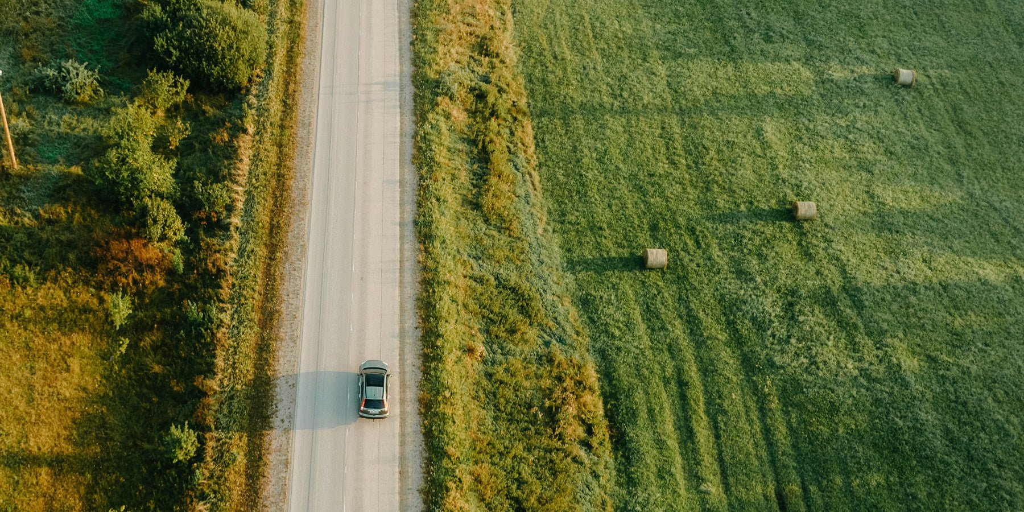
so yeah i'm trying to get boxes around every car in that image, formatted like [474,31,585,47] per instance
[355,361,391,420]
